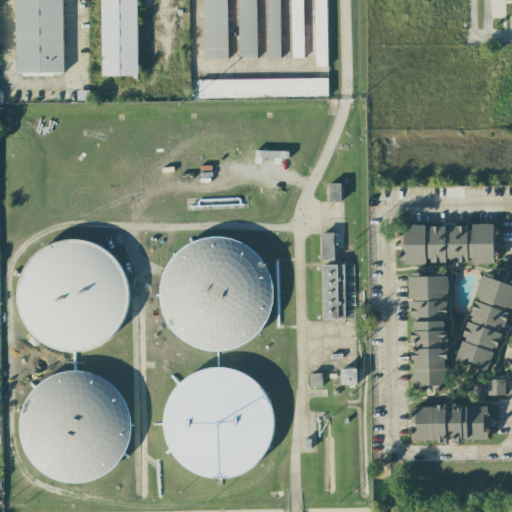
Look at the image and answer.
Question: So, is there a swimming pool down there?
Yes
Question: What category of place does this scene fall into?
industrial area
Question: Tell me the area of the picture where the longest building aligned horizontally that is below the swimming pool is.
bottom right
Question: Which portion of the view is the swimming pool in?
right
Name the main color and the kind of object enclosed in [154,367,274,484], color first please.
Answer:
white storage tank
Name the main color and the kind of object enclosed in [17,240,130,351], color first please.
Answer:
white storage tank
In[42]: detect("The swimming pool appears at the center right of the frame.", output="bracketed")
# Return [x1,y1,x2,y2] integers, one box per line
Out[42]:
[454,268,482,314]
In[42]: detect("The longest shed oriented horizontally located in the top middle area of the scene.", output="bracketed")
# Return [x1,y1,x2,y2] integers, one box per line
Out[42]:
[198,78,330,97]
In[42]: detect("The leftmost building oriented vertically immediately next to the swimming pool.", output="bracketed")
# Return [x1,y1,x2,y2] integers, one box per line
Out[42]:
[410,276,450,388]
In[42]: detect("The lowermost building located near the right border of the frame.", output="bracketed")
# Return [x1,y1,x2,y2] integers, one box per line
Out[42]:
[412,406,490,444]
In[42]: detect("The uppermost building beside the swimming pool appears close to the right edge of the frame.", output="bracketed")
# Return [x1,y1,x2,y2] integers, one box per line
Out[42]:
[404,224,497,264]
